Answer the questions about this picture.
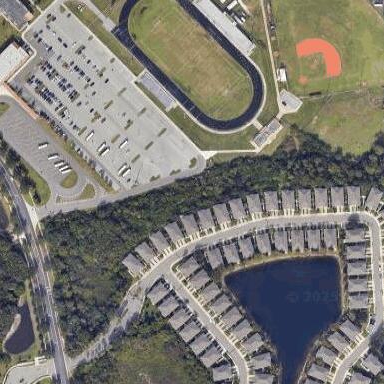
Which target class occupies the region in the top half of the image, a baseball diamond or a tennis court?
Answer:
baseball diamond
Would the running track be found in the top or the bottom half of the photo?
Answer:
top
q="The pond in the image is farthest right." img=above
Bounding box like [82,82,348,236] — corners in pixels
[223,255,342,384]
